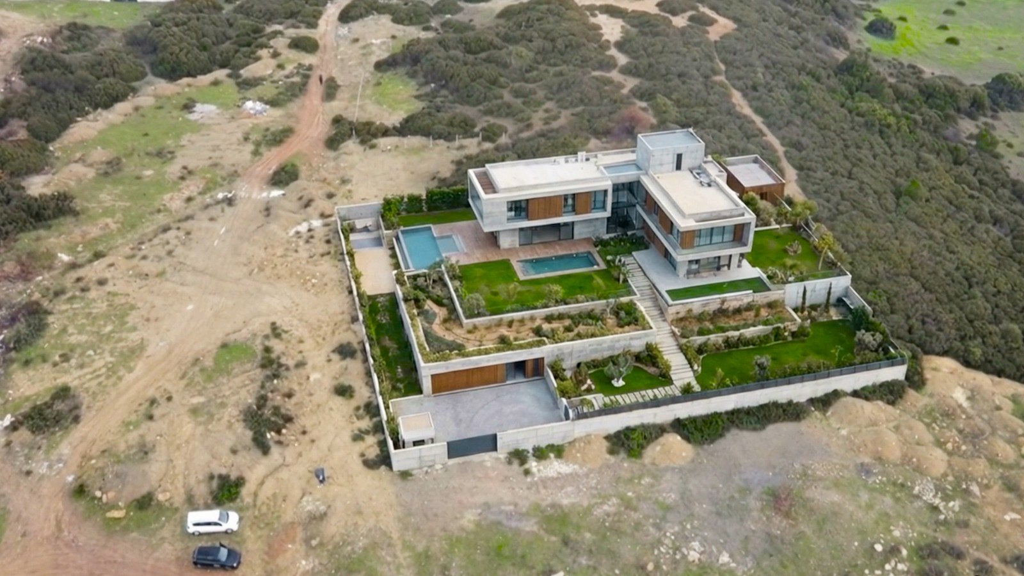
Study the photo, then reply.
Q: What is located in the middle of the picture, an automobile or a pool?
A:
pool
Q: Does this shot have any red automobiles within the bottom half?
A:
No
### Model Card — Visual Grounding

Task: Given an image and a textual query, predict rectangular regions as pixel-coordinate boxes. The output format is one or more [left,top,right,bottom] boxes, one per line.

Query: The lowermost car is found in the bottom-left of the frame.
[189,537,246,570]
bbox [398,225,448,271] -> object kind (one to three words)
swimming pool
